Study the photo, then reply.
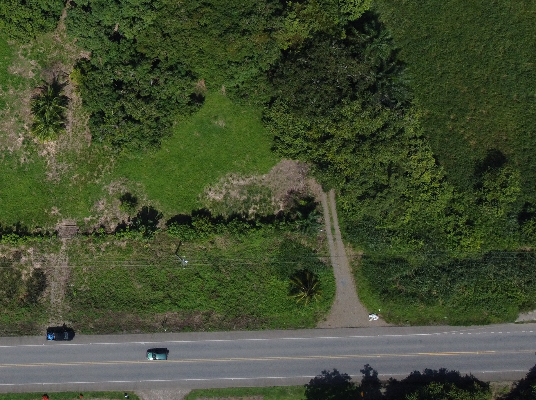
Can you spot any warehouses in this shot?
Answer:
No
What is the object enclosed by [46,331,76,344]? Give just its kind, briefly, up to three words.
vehicle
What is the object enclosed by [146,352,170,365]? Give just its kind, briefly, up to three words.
vehicle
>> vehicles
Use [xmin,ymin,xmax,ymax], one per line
[46,331,76,344]
[146,352,170,365]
